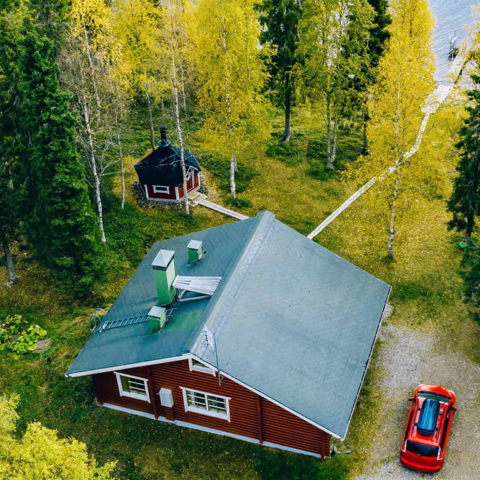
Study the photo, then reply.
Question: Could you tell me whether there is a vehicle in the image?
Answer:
Yes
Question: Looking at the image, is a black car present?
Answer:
No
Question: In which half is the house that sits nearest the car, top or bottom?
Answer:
bottom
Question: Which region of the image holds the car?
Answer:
bottom right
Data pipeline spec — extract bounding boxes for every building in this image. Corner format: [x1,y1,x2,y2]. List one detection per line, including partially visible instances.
[135,125,203,203]
[64,212,392,462]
